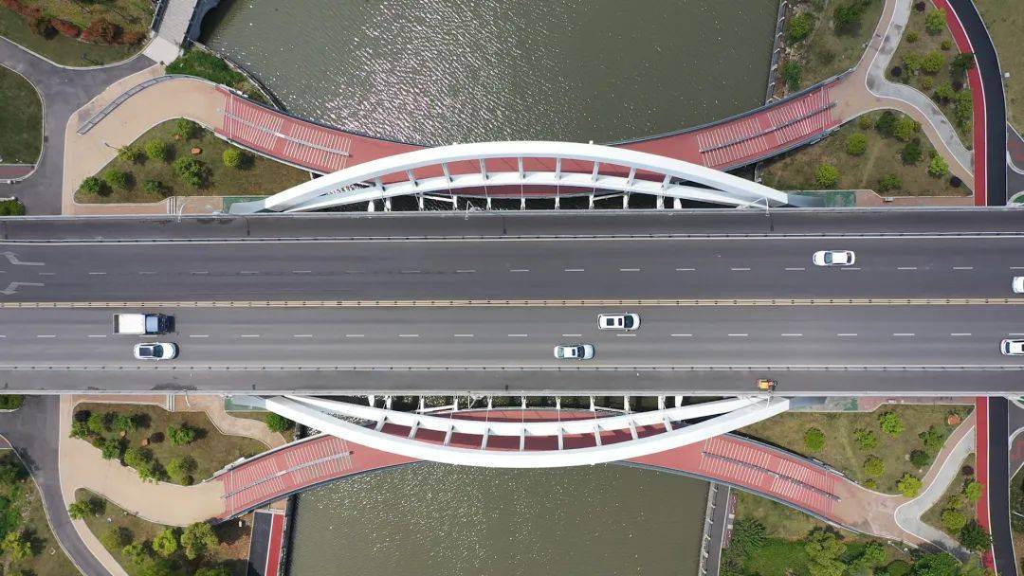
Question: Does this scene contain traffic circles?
No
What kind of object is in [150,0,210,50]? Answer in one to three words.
bridge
